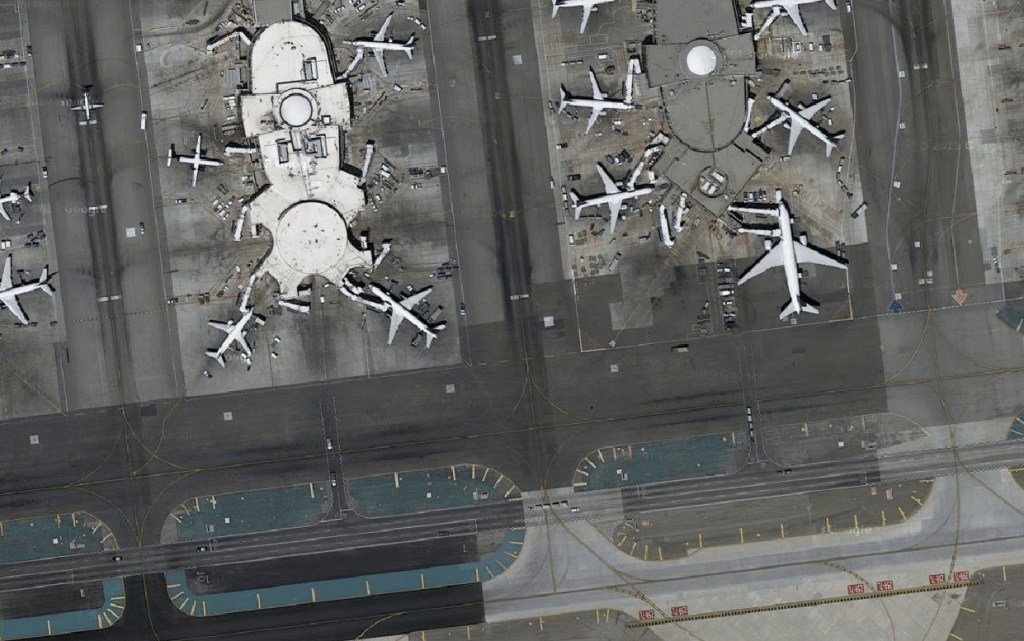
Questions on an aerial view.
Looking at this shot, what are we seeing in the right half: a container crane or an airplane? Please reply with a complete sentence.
Looking in the right half, you will find an airplane.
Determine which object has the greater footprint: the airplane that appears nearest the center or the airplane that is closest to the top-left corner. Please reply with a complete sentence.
The airplane that is closest to the top-left corner is smaller than the airplane that appears nearest the center.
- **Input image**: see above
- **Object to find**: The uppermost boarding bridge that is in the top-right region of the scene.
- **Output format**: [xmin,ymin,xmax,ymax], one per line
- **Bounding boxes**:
[753,5,780,41]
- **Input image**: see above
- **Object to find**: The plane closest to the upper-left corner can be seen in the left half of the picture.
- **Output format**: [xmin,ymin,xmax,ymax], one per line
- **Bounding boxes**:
[71,88,104,120]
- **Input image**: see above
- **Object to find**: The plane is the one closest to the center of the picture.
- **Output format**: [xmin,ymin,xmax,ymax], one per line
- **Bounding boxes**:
[370,285,445,348]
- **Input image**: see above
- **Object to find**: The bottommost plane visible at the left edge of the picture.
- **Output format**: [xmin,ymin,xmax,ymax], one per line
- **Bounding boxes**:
[0,258,50,325]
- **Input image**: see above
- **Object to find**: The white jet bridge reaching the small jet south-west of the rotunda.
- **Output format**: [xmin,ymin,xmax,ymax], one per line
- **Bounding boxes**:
[241,272,258,313]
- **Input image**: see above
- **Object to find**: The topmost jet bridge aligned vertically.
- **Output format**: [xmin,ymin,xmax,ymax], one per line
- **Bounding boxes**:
[625,57,642,107]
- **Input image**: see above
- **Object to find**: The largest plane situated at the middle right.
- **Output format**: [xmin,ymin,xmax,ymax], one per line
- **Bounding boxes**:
[739,199,848,318]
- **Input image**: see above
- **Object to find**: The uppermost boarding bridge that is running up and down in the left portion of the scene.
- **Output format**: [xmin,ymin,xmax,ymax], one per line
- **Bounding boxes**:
[358,140,374,187]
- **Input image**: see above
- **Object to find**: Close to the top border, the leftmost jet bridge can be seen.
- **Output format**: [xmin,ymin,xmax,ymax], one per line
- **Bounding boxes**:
[208,30,253,54]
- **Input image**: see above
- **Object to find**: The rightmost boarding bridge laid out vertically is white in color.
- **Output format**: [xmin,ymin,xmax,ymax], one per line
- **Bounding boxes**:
[742,94,757,134]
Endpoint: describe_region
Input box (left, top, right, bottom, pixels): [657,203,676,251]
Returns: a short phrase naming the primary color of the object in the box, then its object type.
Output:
white jet bridge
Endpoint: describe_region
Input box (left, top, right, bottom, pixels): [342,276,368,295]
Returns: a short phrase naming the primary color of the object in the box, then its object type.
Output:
white jet bridge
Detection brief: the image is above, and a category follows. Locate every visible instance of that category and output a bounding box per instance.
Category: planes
[208,308,253,365]
[558,67,626,134]
[767,97,845,157]
[370,285,445,348]
[71,88,104,120]
[0,181,34,223]
[739,199,848,318]
[568,167,652,235]
[353,15,418,77]
[0,258,50,325]
[751,0,807,35]
[166,135,224,187]
[553,0,611,34]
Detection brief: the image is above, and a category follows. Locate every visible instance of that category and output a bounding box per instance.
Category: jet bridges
[277,299,310,312]
[208,30,253,54]
[241,272,258,313]
[232,202,249,243]
[625,57,642,107]
[338,286,390,311]
[675,192,687,236]
[725,204,779,216]
[736,227,783,237]
[657,203,676,251]
[373,239,389,270]
[753,5,780,41]
[337,45,362,81]
[628,159,647,194]
[342,276,368,295]
[742,94,757,134]
[222,146,260,157]
[749,109,792,139]
[358,140,374,187]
